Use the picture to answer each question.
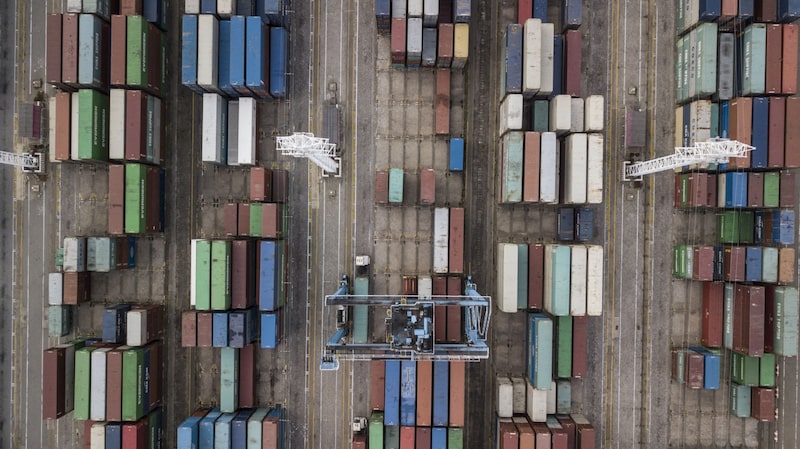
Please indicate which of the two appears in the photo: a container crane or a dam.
container crane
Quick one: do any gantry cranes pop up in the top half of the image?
No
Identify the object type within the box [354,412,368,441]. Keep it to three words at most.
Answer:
vehicle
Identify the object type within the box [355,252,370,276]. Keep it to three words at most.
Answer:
vehicle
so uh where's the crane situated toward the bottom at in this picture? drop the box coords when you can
[319,270,495,372]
